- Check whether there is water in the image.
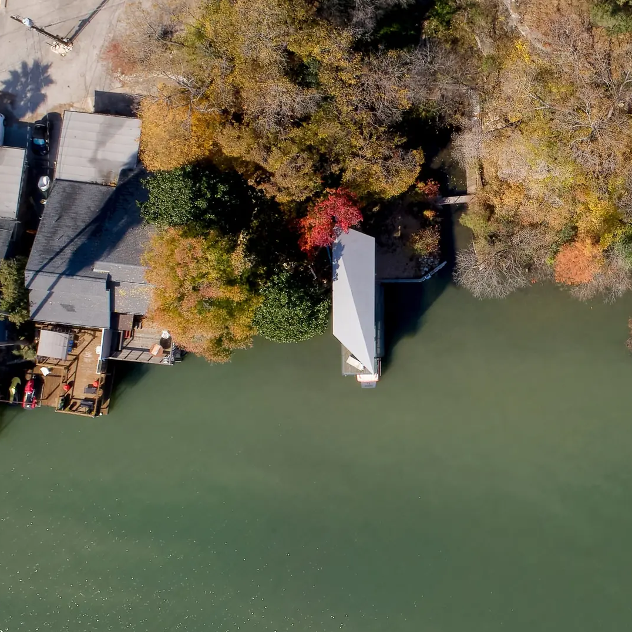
Yes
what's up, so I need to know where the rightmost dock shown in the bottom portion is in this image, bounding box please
[25,367,62,407]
